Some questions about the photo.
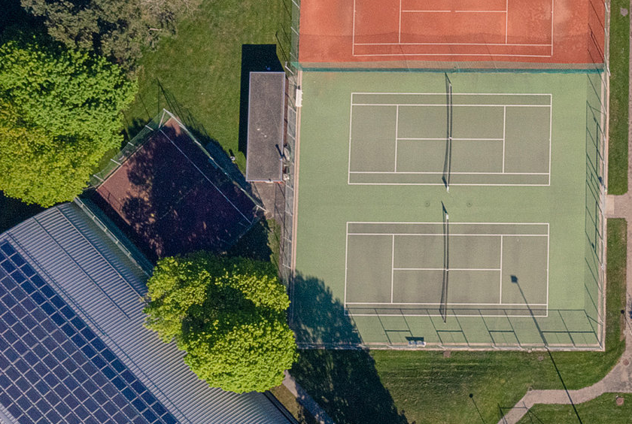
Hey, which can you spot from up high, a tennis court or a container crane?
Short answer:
tennis court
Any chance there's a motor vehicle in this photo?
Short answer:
No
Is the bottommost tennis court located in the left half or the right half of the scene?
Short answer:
right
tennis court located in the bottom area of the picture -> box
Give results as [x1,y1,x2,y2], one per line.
[294,203,605,344]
